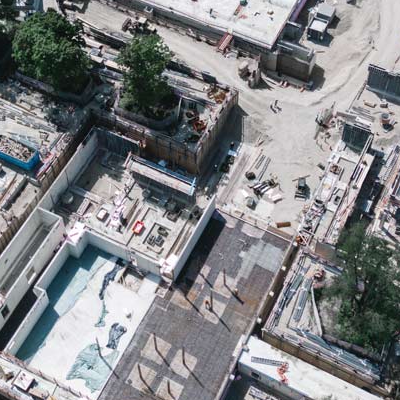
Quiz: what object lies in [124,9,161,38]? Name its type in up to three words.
work vehicle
